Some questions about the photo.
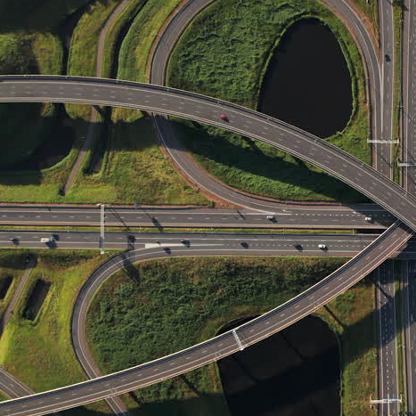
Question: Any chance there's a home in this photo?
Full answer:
No, there appears to be no home in this shot.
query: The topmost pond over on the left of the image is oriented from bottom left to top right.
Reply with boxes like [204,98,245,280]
[24,107,76,170]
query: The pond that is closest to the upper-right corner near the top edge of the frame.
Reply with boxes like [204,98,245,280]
[256,14,354,139]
